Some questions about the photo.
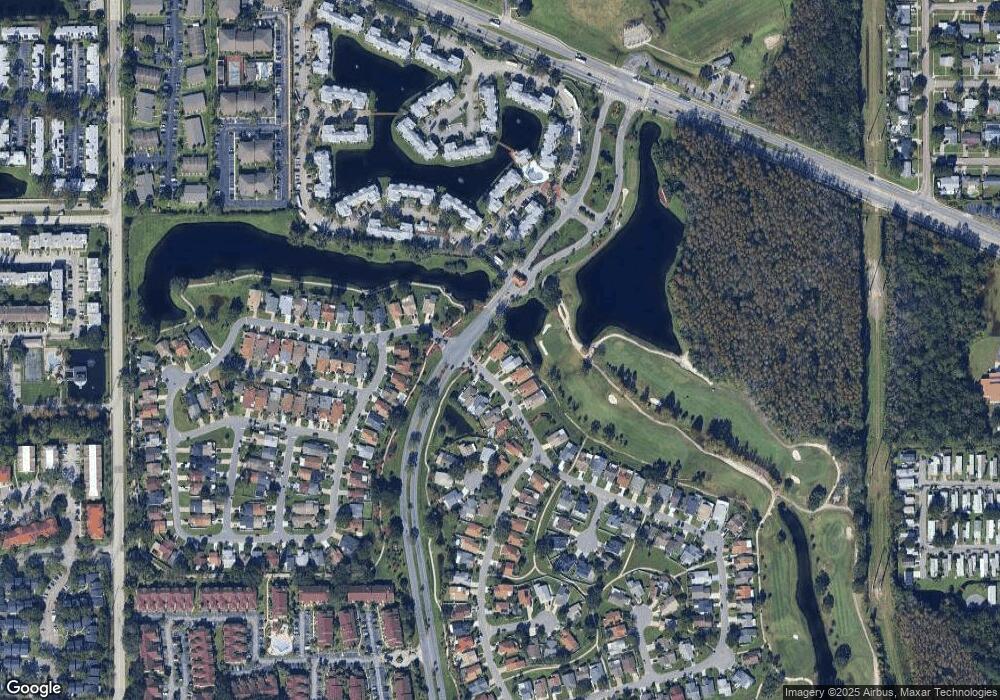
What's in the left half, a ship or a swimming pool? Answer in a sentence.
You can see a swimming pool in the left half.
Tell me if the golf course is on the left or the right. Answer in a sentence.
The golf course is on the right side of the image.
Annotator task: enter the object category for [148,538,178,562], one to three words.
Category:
house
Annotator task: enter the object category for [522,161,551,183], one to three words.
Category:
swimming pool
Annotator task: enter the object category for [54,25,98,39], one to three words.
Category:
building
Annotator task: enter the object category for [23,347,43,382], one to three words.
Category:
tennis court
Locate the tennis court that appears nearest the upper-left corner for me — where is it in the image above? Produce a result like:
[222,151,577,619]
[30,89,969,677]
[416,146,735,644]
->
[226,59,243,87]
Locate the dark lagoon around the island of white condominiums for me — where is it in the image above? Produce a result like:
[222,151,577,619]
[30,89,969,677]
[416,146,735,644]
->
[334,37,541,205]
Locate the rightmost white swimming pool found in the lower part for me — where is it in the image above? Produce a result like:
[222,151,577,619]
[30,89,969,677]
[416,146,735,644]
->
[269,635,294,654]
